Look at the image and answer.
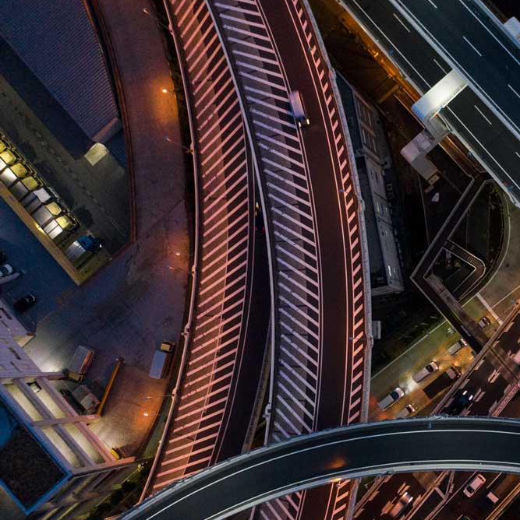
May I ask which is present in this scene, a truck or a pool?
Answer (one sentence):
Of the two, only a truck appears.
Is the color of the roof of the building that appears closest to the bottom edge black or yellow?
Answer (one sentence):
The roof of the building that appears closest to the bottom edge looks black in the image.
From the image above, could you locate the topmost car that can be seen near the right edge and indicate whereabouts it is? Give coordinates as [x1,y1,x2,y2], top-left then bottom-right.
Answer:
[478,312,497,330]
